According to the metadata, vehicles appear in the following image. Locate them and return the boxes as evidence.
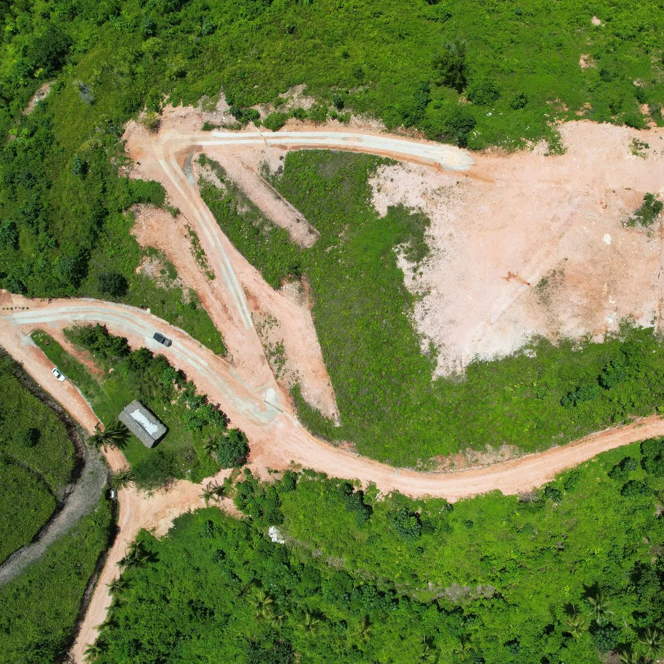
[154,331,173,346]
[51,367,67,381]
